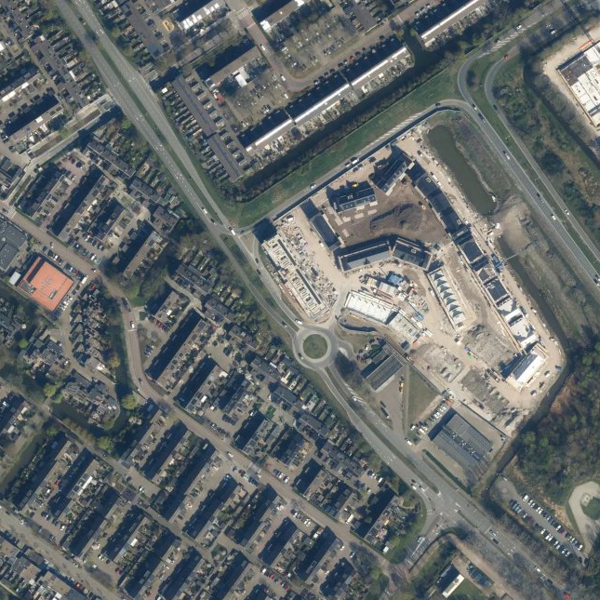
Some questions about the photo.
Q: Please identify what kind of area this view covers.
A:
residential area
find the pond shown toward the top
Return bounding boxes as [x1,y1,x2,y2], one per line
[428,126,498,215]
